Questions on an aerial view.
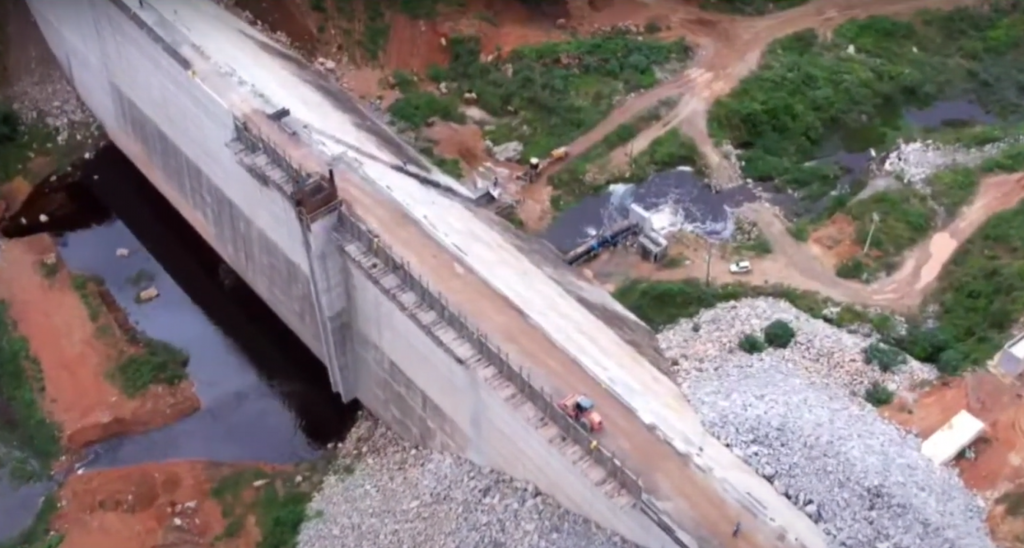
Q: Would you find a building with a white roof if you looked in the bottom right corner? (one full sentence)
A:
Yes, there is a building with a white roof in the bottom right corner.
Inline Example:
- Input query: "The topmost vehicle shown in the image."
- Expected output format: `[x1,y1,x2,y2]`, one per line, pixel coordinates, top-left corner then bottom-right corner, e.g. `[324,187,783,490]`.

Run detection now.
[546,145,570,163]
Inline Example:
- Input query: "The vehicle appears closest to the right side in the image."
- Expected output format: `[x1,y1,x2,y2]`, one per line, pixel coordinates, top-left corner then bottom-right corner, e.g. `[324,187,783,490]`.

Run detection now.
[727,260,753,274]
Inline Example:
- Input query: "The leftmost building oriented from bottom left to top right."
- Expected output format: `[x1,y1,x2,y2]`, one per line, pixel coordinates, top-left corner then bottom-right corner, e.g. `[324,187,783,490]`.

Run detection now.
[919,411,985,466]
